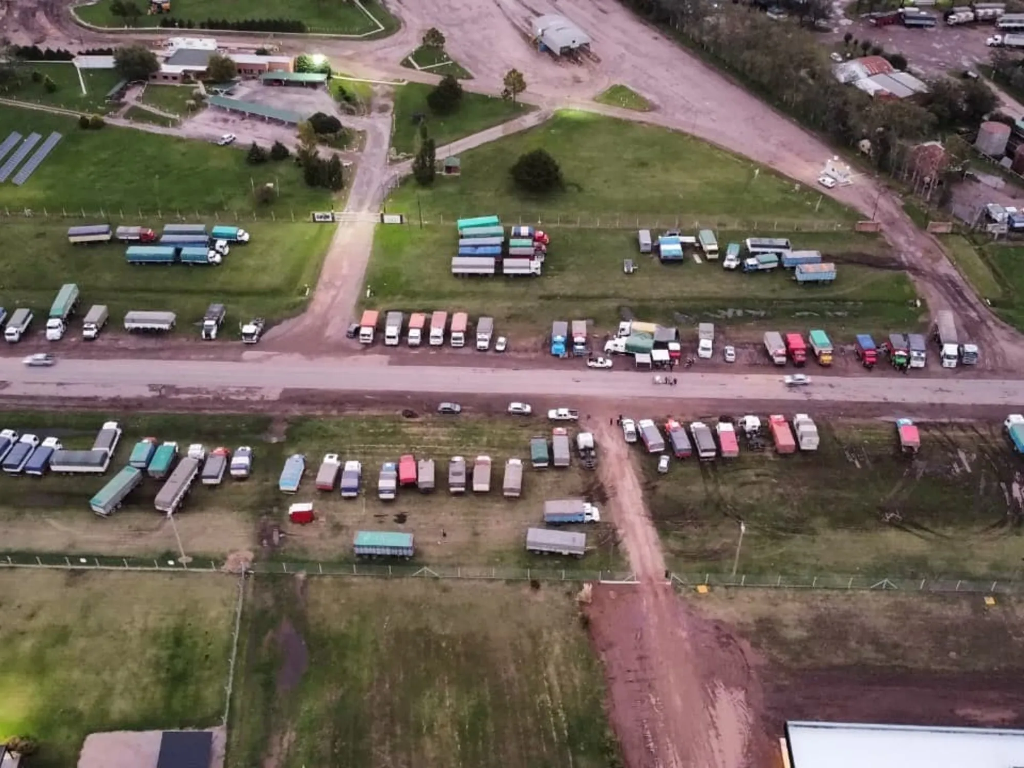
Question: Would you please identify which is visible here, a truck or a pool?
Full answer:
I can see a truck in this picture.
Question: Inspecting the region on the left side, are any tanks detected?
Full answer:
No, on the left side there is no tank.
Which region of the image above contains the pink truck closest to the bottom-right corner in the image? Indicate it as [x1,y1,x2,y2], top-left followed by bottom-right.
[895,422,922,452]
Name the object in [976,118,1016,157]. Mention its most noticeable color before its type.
gray storage tank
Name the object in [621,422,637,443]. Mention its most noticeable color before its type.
white vehicle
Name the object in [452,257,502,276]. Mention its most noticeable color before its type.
white trailer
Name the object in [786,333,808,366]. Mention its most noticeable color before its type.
red truck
